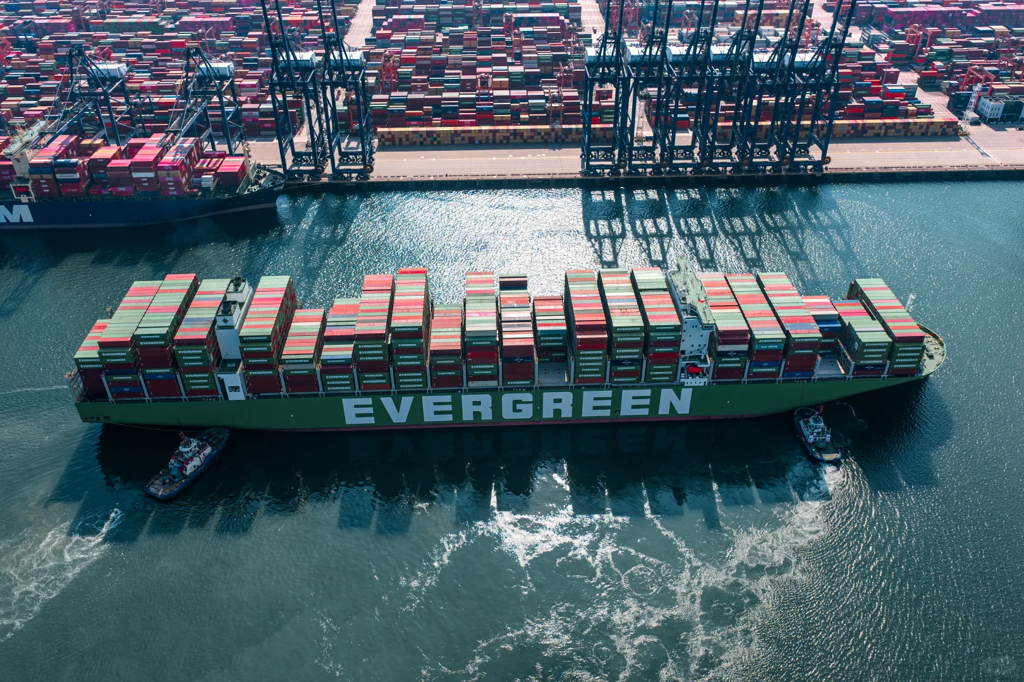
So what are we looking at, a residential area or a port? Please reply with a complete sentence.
The picture captures a port.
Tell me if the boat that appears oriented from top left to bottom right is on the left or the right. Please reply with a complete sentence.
The boat that appears oriented from top left to bottom right appears in the right half of the scene.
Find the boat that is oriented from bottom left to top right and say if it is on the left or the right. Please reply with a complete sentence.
The boat that is oriented from bottom left to top right sits on the left side.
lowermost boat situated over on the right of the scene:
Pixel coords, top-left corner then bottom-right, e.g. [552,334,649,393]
[788,408,852,467]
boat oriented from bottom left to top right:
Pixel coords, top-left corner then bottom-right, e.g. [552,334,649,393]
[140,433,229,501]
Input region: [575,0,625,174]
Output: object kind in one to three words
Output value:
container crane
